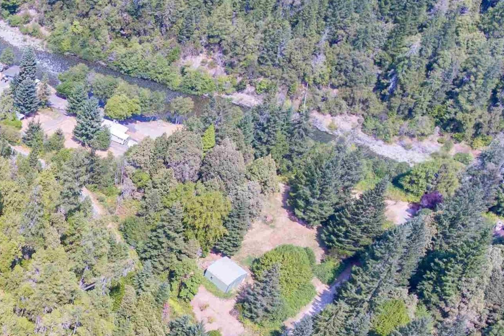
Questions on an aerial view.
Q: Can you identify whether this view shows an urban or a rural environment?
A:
rural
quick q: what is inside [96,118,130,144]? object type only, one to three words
house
